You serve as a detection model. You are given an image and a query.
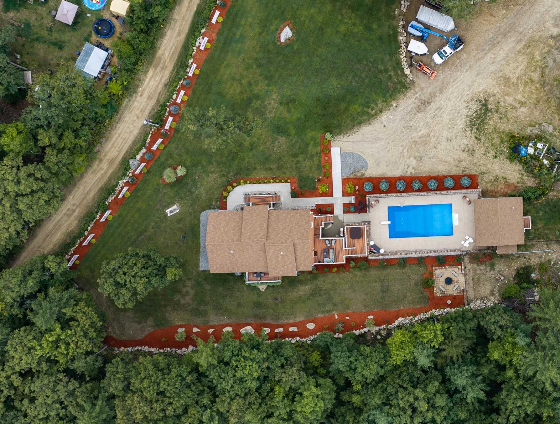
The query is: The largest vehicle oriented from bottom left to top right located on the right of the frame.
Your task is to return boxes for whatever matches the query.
[433,34,465,63]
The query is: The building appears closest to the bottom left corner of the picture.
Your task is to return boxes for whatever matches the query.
[204,194,311,283]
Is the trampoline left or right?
left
